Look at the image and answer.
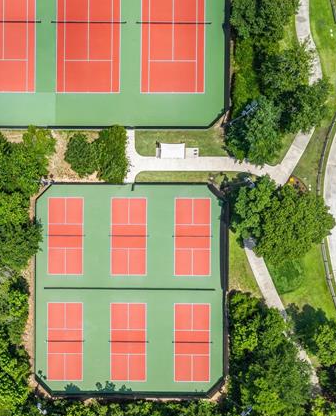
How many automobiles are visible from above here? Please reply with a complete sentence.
The count of automobiles is 0.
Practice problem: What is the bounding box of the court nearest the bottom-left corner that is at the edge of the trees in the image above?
[47,302,83,381]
